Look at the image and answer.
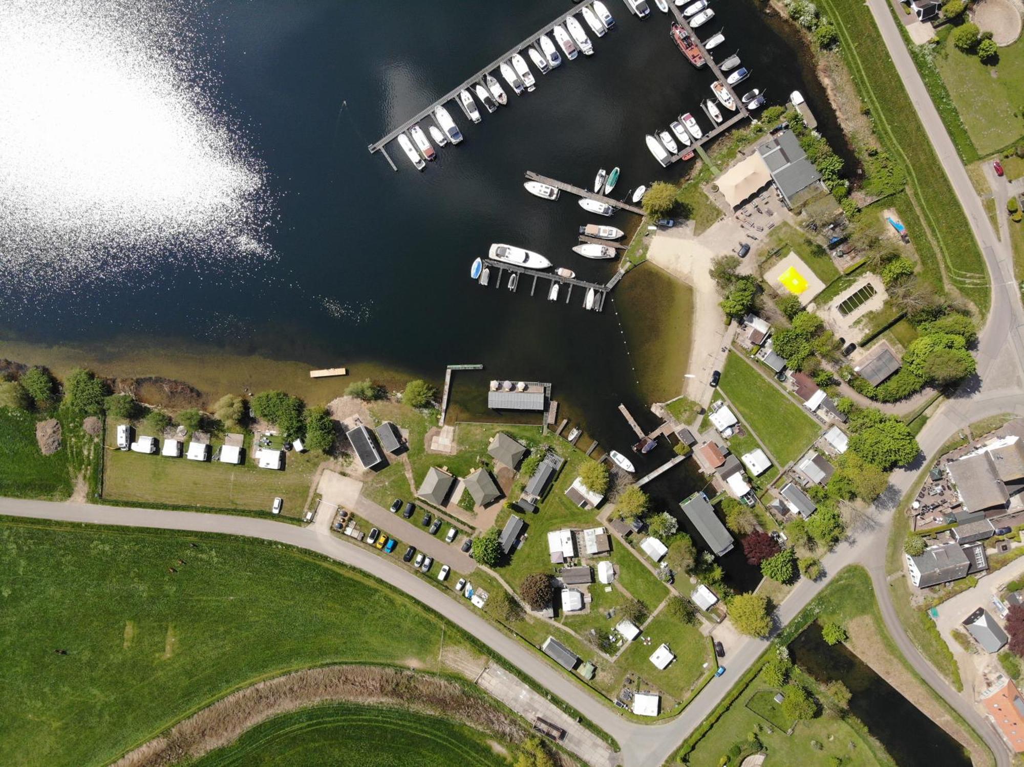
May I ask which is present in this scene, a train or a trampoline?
trampoline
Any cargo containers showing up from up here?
Yes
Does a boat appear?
Yes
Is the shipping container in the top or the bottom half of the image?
bottom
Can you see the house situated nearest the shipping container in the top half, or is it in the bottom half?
bottom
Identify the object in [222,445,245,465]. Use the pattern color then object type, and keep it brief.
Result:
white camper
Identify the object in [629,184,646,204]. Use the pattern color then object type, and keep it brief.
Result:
white boat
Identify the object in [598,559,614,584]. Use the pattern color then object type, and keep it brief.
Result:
white tent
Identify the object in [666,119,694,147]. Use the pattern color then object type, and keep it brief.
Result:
white boat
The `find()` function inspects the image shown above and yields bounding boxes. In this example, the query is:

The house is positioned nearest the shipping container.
[542,635,578,671]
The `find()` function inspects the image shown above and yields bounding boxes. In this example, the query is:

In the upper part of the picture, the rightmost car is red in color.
[991,160,1004,176]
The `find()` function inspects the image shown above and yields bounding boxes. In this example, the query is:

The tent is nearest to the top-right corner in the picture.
[714,152,772,210]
